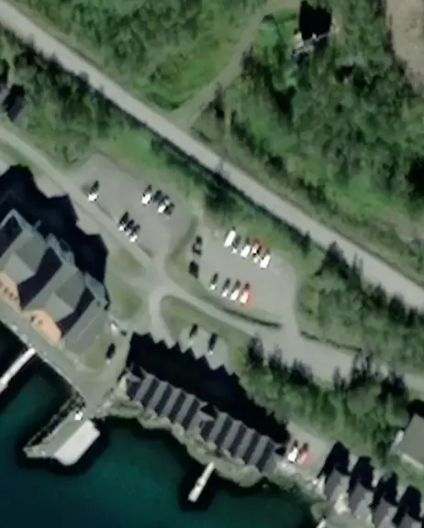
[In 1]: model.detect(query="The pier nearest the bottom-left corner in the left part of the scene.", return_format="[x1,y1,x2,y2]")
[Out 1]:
[55,423,100,465]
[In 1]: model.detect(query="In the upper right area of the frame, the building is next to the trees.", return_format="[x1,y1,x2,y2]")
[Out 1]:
[294,20,334,62]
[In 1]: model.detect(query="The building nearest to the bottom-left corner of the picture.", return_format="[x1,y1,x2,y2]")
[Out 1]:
[125,376,208,436]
